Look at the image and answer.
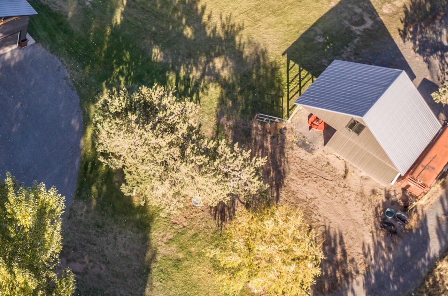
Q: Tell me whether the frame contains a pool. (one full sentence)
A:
No, I find no pool anywhere in the image.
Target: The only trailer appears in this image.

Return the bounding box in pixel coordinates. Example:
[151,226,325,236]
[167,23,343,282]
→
[394,126,448,206]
